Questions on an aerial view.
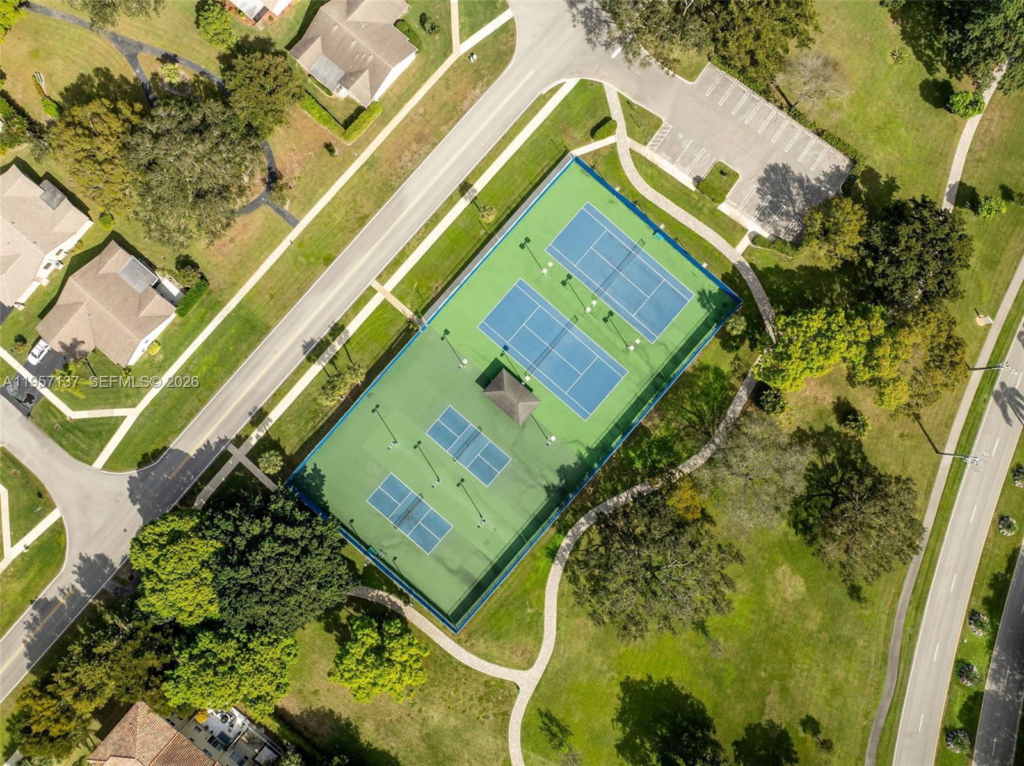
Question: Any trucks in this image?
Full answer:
No, there's no truck here.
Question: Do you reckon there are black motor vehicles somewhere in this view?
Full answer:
No, the scene contains no black motor vehicle.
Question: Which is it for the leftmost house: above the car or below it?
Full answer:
You can see the leftmost house above the car in the frame.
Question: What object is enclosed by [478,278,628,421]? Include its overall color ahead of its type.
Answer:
blue tennis court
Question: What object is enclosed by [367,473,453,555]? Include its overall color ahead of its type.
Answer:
blue sports court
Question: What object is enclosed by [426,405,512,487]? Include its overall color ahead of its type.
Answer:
blue sports court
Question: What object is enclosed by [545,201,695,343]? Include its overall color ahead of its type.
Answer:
blue tennis court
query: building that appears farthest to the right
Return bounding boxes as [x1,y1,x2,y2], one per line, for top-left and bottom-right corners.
[483,368,541,425]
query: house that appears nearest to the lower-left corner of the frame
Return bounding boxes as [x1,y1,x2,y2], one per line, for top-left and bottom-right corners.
[89,694,252,766]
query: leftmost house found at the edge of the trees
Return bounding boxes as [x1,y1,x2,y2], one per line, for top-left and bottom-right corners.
[0,164,96,306]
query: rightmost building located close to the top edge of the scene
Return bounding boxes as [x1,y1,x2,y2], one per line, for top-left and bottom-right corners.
[291,0,418,108]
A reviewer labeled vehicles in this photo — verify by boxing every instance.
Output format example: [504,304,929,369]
[28,338,53,367]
